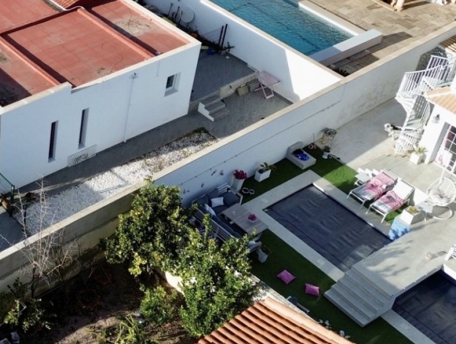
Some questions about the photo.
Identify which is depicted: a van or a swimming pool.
swimming pool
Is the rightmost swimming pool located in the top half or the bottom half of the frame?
bottom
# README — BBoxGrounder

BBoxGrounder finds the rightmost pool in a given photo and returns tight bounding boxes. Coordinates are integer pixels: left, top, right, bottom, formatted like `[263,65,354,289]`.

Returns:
[359,264,456,344]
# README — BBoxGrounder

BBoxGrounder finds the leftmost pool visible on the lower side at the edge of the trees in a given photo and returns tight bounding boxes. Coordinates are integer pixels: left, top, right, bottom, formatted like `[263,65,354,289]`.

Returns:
[227,172,393,290]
